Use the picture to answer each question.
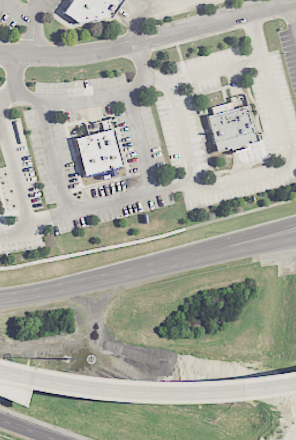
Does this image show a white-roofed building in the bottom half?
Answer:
No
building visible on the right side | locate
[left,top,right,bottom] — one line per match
[206,96,258,152]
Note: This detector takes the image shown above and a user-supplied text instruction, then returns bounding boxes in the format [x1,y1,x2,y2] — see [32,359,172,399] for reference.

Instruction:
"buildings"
[206,96,258,152]
[62,0,124,24]
[74,130,124,180]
